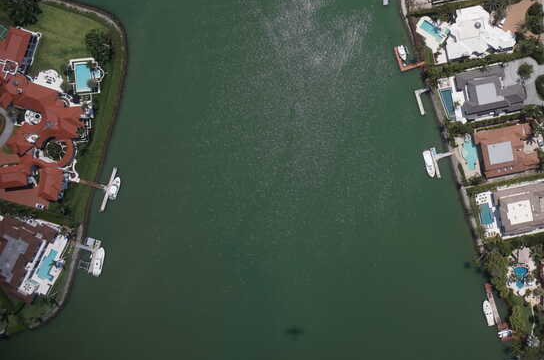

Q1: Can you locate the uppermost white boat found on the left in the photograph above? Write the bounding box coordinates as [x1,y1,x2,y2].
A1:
[107,177,120,202]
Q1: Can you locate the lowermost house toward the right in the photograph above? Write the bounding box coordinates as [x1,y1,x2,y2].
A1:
[494,182,544,236]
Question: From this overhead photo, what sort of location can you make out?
residential area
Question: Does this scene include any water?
Yes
